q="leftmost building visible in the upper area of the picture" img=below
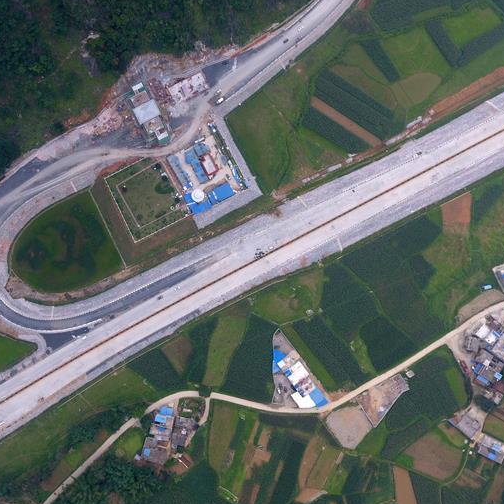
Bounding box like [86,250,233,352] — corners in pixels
[129,82,171,148]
